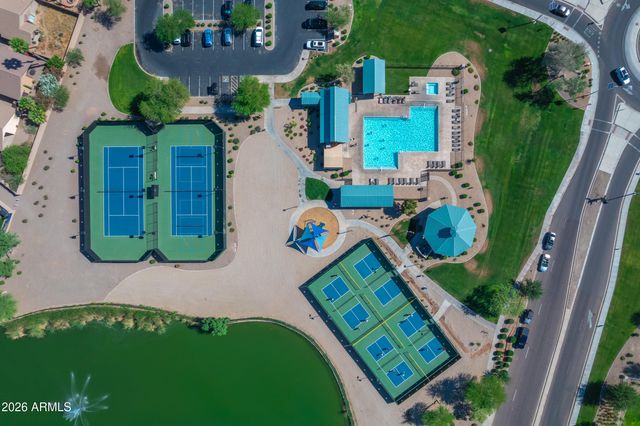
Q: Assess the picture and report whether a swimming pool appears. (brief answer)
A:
Yes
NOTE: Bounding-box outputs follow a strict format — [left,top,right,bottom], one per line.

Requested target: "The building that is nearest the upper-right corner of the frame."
[363,57,386,96]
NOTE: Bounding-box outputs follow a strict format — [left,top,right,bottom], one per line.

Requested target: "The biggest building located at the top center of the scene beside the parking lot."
[302,84,349,143]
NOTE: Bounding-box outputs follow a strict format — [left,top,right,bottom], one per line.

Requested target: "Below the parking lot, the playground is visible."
[289,202,345,258]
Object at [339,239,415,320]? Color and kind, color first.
green sports court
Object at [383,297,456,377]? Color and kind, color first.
green sports court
